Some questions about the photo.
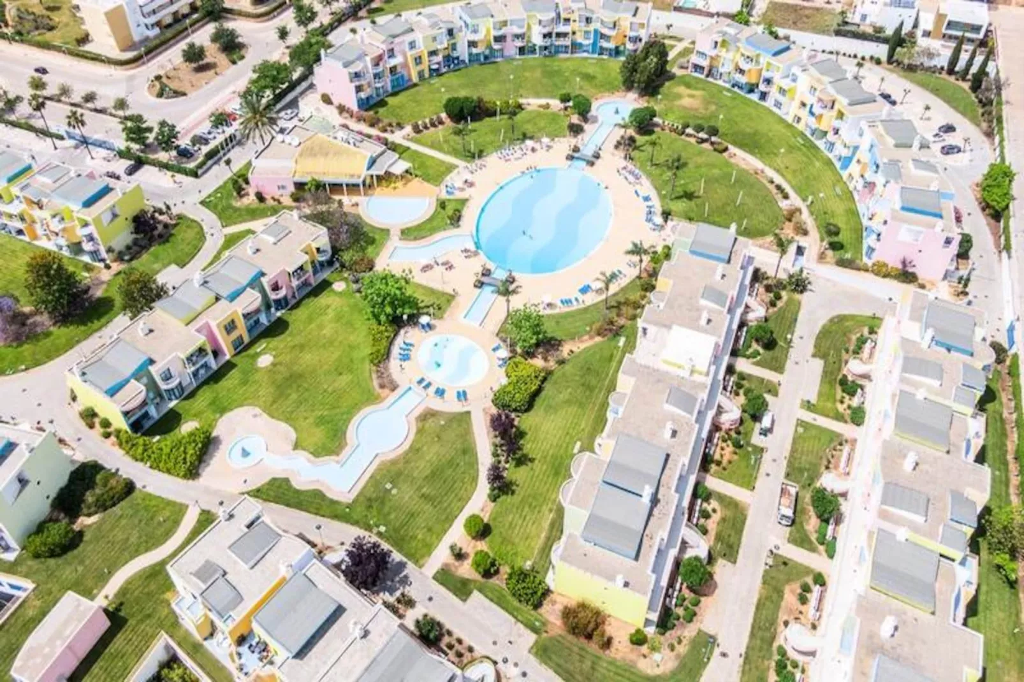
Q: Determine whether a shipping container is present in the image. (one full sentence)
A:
No, the scene contains no shipping container.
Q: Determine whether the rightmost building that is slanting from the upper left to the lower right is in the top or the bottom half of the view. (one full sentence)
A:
You can find the rightmost building that is slanting from the upper left to the lower right in the top half.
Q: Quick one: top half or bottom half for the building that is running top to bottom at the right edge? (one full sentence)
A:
The bottom half of the photo is where the building that is running top to bottom at the right edge is.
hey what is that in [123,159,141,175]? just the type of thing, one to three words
car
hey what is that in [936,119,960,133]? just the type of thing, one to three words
car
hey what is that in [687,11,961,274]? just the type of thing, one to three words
building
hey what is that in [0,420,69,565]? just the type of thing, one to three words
building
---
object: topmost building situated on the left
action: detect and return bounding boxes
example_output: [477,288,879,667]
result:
[89,0,205,51]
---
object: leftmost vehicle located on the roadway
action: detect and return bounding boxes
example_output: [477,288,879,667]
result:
[29,62,51,75]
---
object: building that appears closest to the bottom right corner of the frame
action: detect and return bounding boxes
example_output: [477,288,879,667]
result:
[805,288,997,682]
